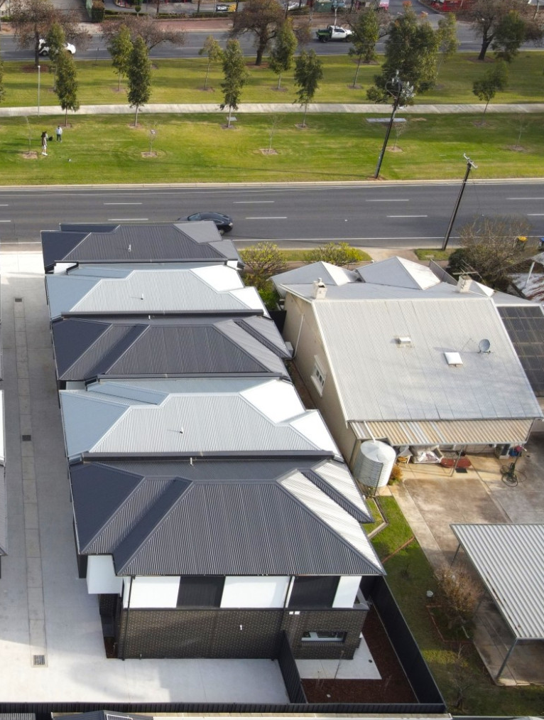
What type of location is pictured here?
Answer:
residential area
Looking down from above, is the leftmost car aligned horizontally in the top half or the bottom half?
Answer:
top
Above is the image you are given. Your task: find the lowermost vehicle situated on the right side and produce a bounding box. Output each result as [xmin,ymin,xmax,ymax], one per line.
[314,29,352,43]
